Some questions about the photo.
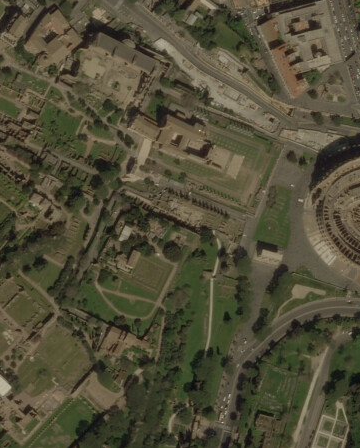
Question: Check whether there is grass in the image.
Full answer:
Yes, some grass is visible.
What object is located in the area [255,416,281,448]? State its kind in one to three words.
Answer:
building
